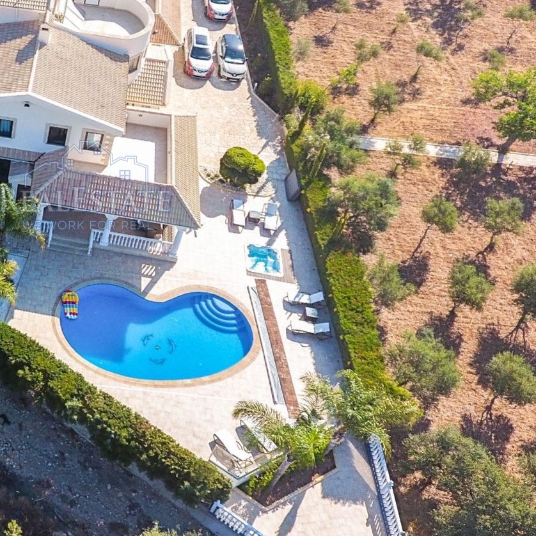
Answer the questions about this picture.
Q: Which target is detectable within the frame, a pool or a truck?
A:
pool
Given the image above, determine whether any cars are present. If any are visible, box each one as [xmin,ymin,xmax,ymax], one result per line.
[211,37,249,85]
[177,32,216,80]
[198,0,234,23]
